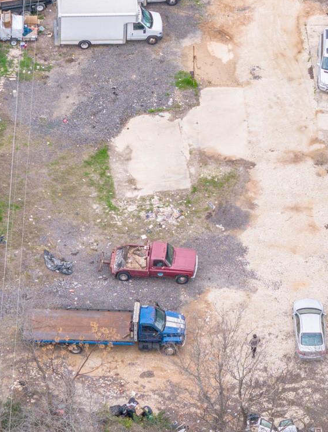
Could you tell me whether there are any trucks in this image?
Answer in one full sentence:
Yes, there's a truck down there.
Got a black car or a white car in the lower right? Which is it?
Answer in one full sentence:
Looking in the lower right, you will find a white car.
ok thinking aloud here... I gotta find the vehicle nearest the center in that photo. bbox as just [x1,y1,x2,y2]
[94,248,202,291]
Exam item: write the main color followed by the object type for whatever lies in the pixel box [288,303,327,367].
white car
